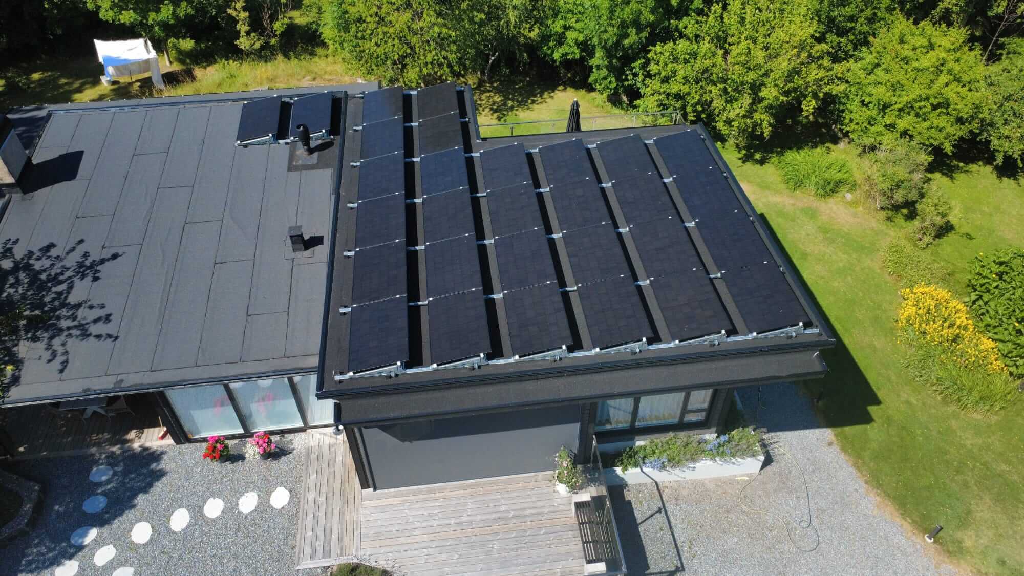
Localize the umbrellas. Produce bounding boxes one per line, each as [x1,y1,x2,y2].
[567,101,583,132]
